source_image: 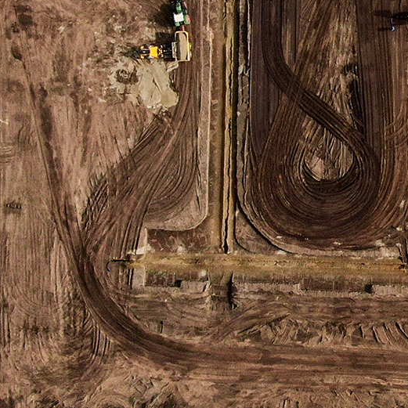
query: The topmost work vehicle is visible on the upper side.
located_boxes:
[172,0,190,26]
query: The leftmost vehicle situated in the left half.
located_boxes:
[136,44,175,60]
